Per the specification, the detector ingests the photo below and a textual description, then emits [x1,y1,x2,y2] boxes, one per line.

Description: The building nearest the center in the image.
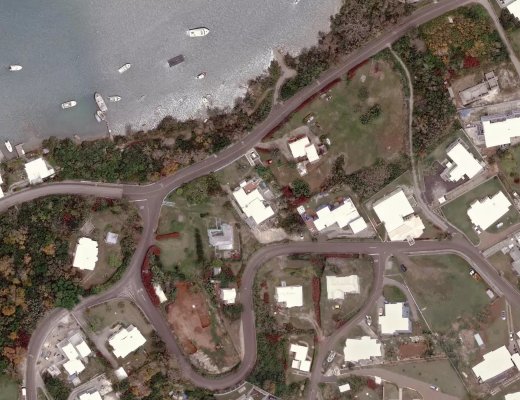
[231,181,275,225]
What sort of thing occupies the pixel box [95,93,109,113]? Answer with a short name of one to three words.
boat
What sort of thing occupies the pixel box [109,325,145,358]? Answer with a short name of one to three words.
house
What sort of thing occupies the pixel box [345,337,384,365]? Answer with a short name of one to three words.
house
